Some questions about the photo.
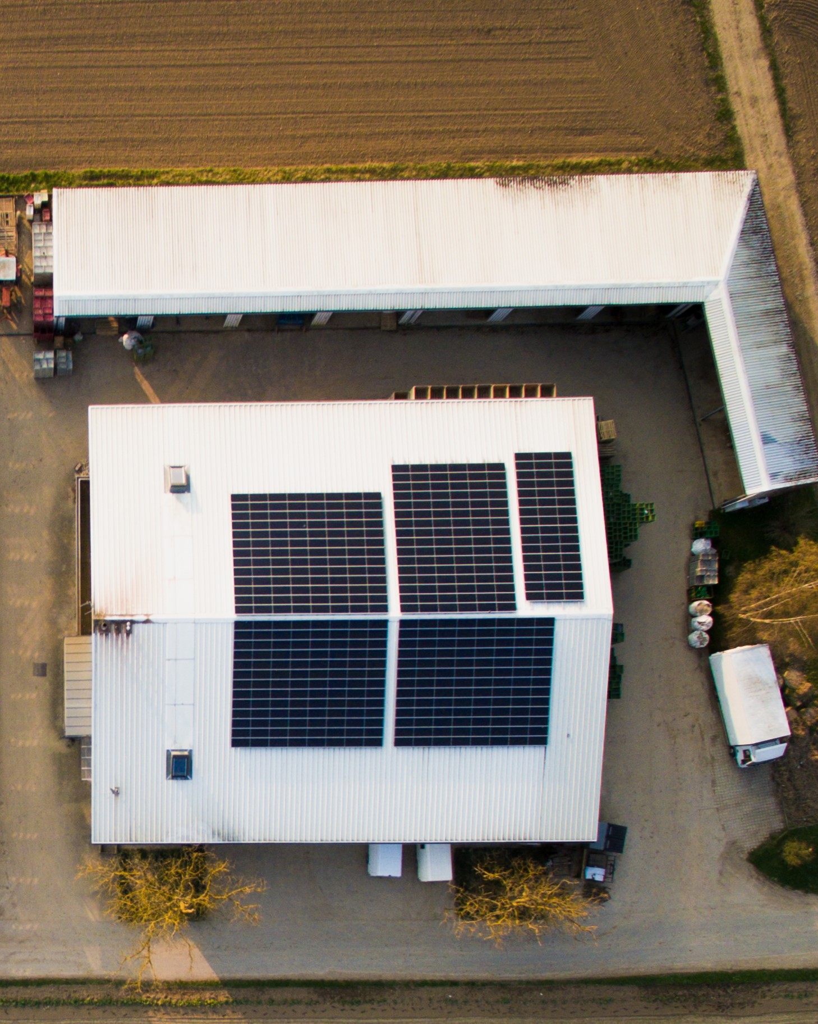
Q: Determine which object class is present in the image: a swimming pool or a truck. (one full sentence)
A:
There is a truck in the scene.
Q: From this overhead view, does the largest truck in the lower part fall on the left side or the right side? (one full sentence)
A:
The largest truck in the lower part appears in the right half of the scene.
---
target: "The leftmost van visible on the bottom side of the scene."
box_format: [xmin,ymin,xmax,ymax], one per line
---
[365,843,399,875]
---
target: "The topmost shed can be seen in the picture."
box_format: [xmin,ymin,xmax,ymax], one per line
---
[52,169,818,511]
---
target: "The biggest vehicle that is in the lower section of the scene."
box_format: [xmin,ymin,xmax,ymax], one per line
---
[707,645,785,770]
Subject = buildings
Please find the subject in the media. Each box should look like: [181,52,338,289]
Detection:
[52,169,818,511]
[88,395,614,844]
